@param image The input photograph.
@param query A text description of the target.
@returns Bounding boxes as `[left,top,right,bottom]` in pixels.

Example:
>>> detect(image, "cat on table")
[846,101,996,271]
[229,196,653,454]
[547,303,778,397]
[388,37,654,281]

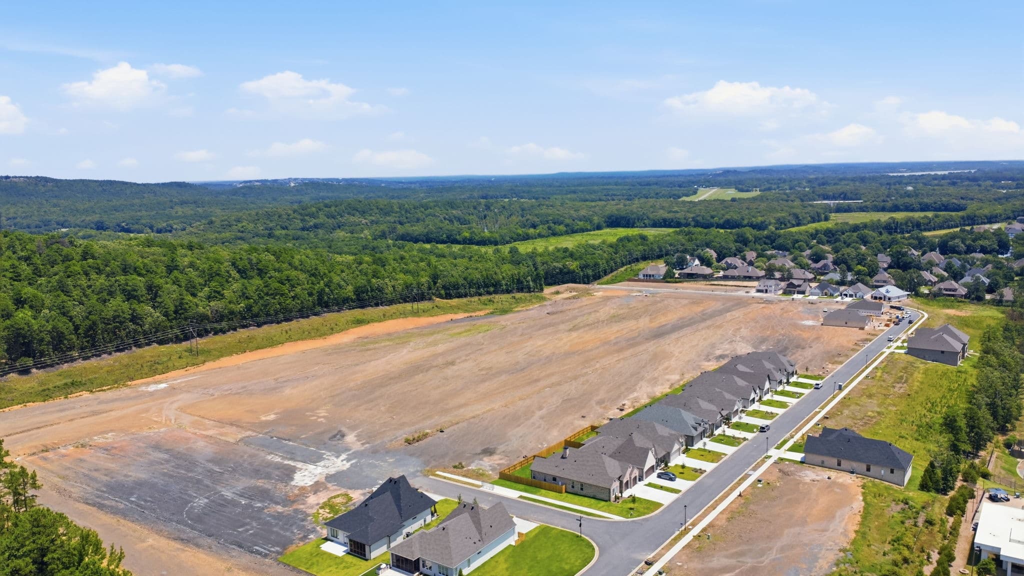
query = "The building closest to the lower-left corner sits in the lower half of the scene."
[322,477,446,559]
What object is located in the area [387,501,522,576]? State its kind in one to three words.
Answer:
house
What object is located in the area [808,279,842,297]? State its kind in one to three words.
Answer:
house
